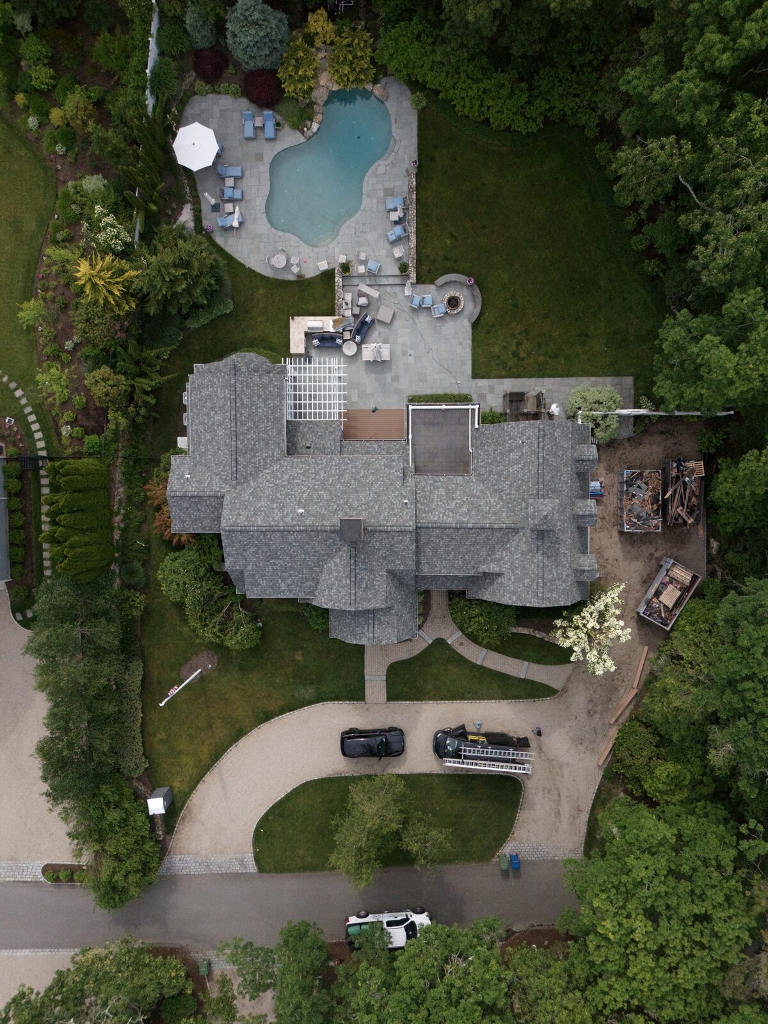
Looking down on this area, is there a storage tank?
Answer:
No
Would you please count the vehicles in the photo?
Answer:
3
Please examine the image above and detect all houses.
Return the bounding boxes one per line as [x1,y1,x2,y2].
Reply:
[0,458,11,583]
[163,353,601,645]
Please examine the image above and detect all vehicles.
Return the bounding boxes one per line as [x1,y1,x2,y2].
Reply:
[431,724,524,770]
[347,910,431,950]
[341,726,405,759]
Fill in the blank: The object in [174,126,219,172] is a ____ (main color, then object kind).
white umbrella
